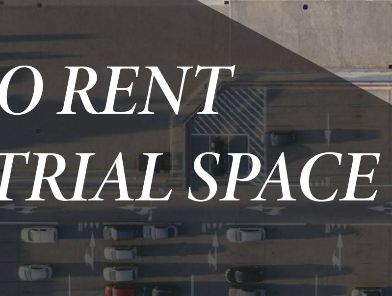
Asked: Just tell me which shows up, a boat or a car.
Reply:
car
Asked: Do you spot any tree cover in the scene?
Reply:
No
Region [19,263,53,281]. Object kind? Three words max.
car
